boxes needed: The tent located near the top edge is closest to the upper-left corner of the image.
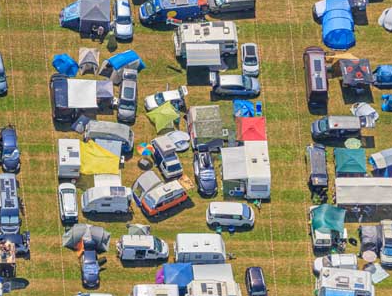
[59,0,82,34]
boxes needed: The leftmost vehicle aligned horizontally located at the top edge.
[138,0,201,29]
